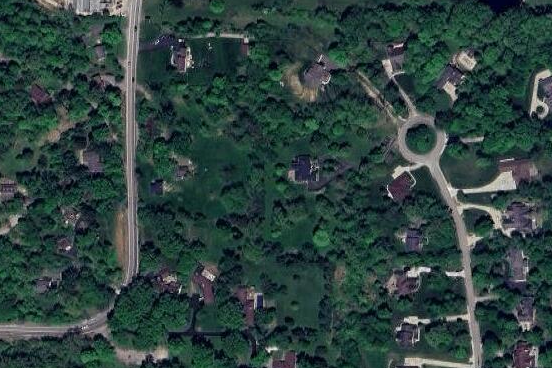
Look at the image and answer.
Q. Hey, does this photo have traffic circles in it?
Yes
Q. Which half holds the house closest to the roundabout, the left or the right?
right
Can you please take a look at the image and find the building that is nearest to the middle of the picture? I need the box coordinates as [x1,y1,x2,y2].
[293,156,318,182]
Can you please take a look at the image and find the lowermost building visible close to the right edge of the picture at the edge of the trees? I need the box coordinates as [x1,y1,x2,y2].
[511,341,535,368]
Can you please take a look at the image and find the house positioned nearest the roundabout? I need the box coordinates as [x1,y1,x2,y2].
[386,172,413,201]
